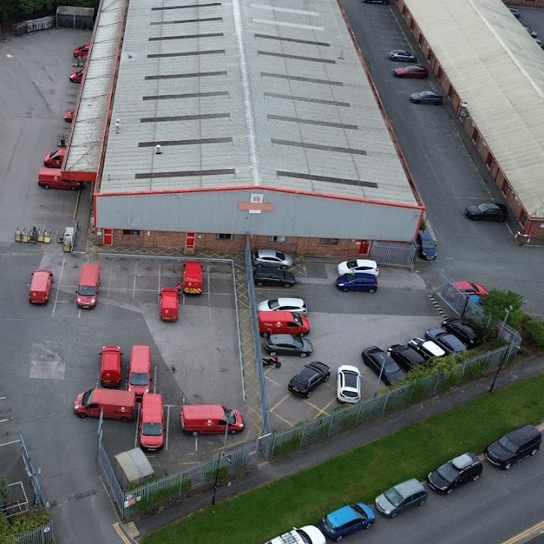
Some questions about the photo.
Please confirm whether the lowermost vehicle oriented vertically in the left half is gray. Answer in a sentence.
No, from above the lowermost vehicle oriented vertically in the left half looks red.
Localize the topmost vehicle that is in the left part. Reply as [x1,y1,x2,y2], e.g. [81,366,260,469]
[75,39,92,55]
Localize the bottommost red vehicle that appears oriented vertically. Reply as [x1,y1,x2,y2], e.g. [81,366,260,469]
[138,390,165,448]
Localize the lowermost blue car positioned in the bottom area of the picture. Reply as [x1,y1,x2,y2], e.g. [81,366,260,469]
[320,505,373,543]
